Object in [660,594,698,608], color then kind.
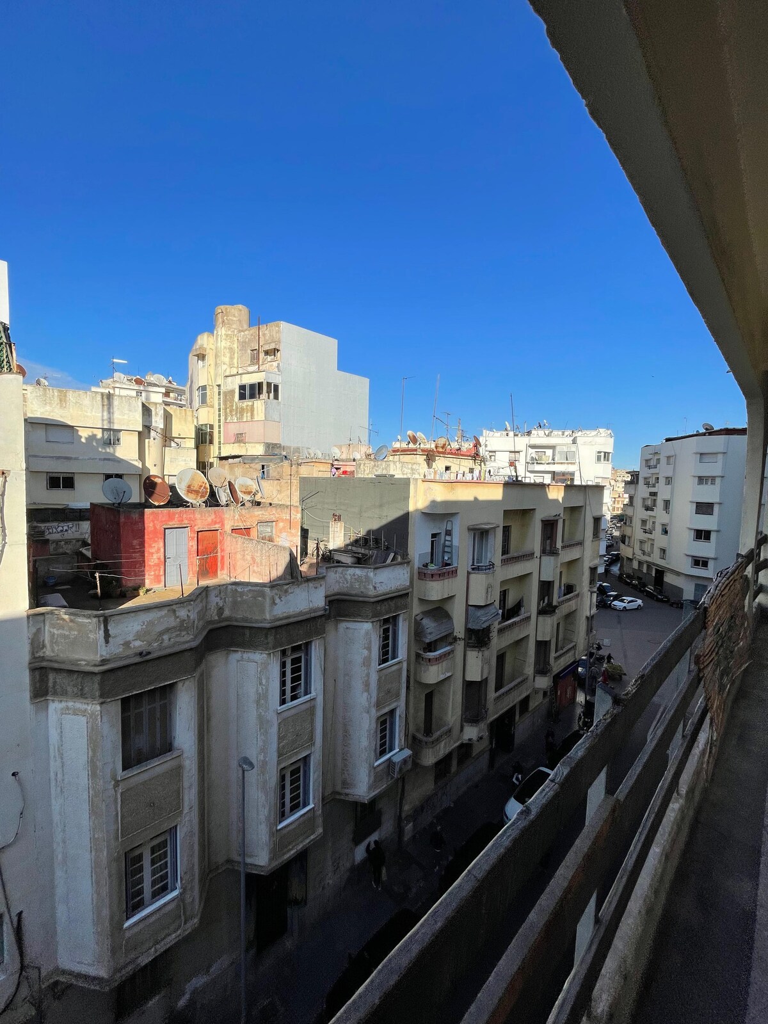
black car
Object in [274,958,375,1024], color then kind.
black car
